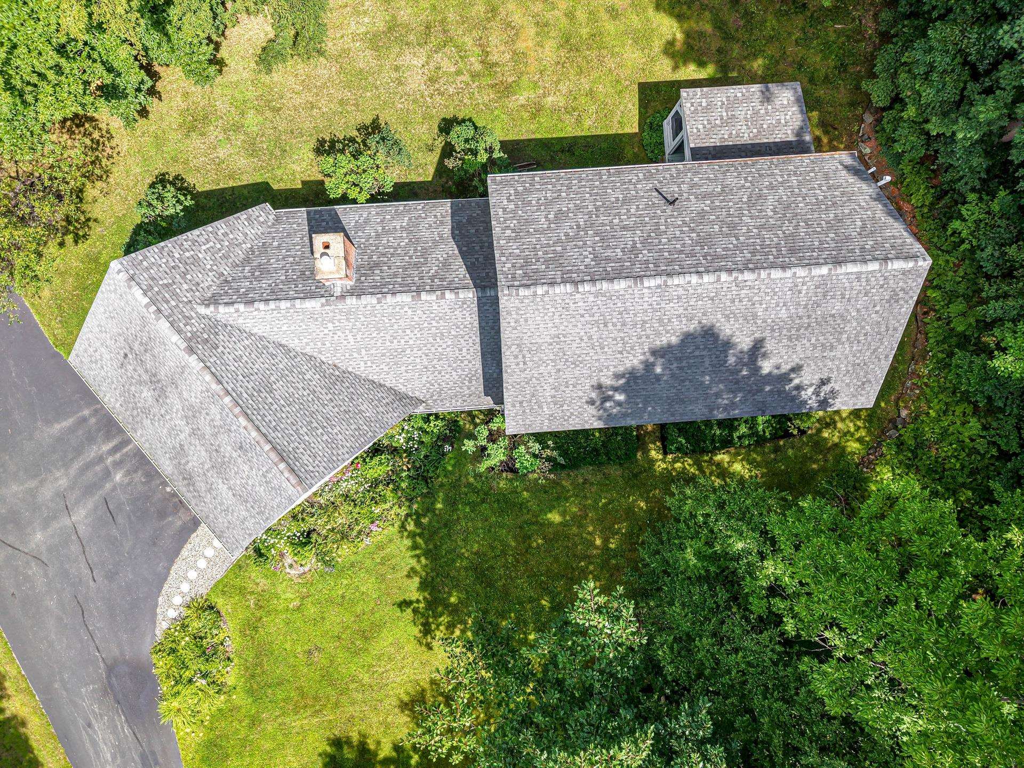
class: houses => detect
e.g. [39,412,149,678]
[68,83,933,559]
